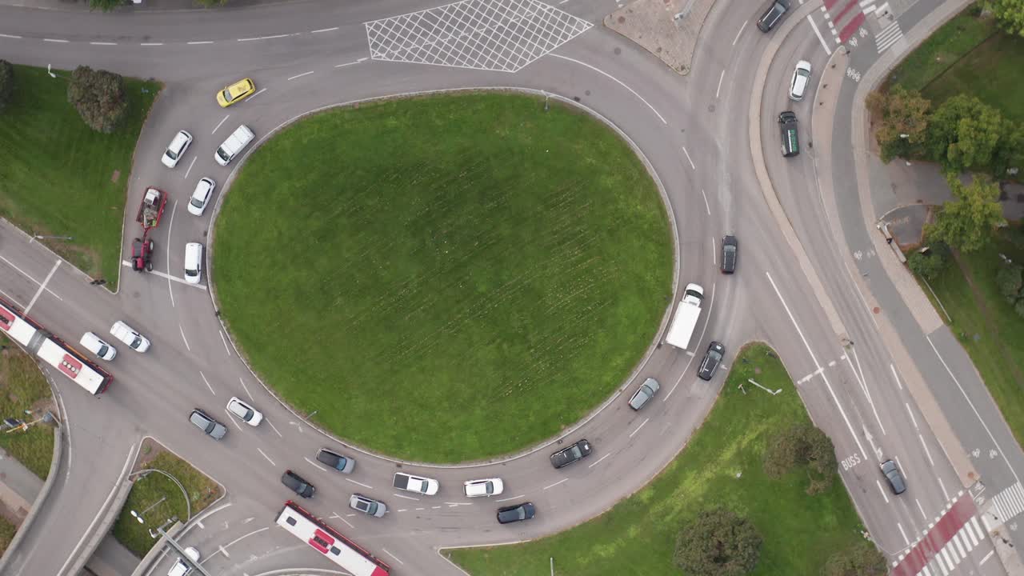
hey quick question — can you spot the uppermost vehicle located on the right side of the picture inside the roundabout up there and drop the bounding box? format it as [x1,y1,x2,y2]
[667,284,706,349]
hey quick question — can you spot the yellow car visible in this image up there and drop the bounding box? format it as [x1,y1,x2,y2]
[218,79,256,107]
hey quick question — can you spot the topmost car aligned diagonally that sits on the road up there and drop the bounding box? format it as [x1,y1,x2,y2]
[756,0,791,34]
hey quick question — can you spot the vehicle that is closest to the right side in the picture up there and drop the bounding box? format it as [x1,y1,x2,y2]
[879,459,906,494]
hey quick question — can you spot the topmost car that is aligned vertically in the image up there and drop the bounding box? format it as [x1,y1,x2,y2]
[788,61,812,101]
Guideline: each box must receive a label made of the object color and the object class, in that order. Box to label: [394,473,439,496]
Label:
white truck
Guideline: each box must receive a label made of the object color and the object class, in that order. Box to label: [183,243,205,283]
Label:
white vehicle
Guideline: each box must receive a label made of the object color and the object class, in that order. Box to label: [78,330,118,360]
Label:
white van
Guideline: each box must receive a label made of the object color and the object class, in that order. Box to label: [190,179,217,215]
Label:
white car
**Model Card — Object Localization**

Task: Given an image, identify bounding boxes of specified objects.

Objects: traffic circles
[173,54,713,500]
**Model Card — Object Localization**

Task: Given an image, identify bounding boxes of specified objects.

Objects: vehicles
[464,478,503,497]
[394,473,439,496]
[778,112,800,157]
[788,61,812,101]
[496,502,536,524]
[719,235,739,274]
[144,189,161,206]
[183,243,205,283]
[696,341,723,380]
[109,319,151,351]
[348,493,387,517]
[667,284,706,349]
[218,79,256,107]
[163,131,193,167]
[126,236,153,270]
[78,330,118,360]
[190,179,217,215]
[756,0,791,34]
[217,125,255,165]
[551,439,591,468]
[280,468,316,499]
[627,377,659,411]
[316,447,355,473]
[879,459,906,494]
[227,396,263,426]
[276,499,393,576]
[189,408,227,439]
[0,292,118,396]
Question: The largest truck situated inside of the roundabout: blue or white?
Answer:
white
